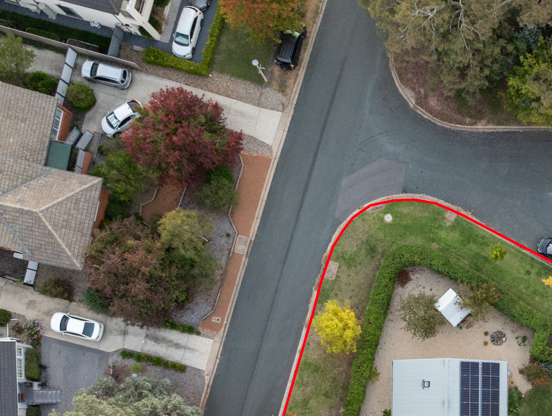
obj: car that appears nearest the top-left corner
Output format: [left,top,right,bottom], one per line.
[80,59,135,94]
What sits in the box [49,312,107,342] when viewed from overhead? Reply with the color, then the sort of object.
white car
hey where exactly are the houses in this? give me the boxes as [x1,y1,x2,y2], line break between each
[0,314,61,416]
[390,357,509,416]
[23,0,180,60]
[434,288,470,327]
[0,82,110,271]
